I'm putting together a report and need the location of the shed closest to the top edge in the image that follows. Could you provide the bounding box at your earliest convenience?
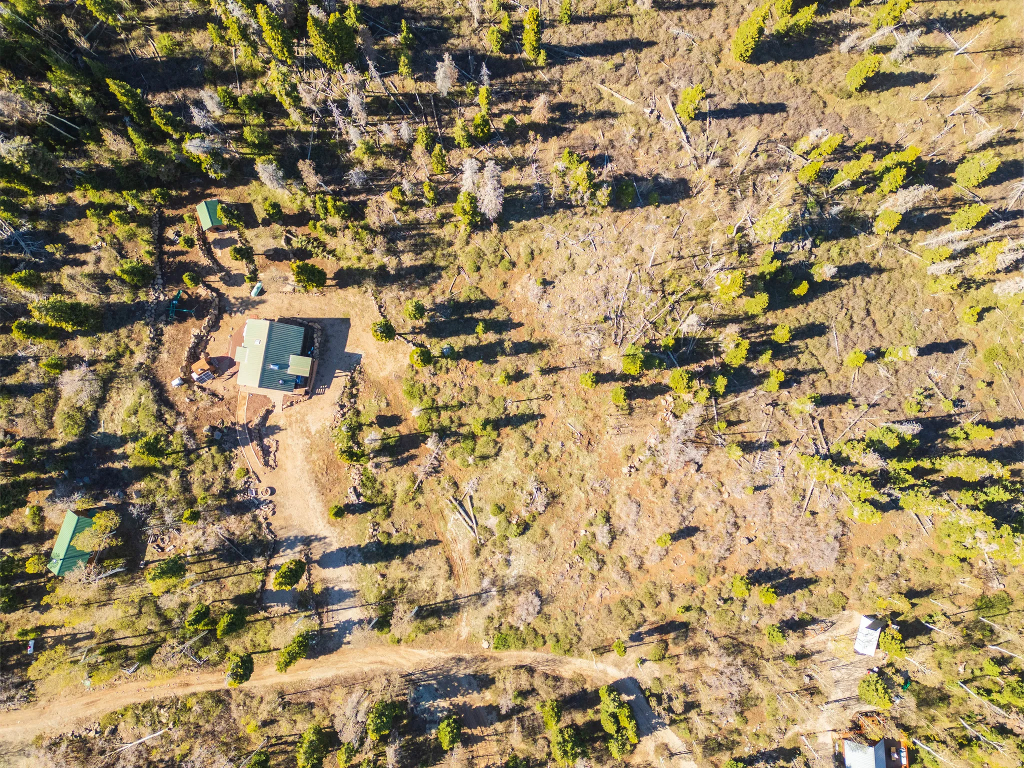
[196,200,230,233]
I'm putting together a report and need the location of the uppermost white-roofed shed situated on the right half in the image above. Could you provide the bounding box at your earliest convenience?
[850,613,887,654]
